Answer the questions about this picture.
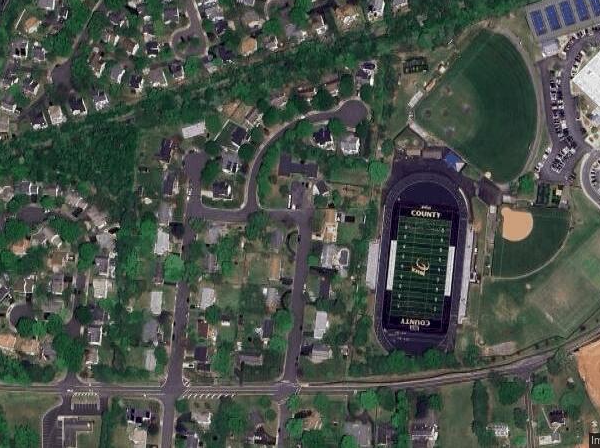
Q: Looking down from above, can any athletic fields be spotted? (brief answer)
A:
Yes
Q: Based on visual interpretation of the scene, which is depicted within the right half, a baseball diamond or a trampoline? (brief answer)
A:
baseball diamond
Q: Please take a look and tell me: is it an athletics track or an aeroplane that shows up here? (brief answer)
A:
athletics track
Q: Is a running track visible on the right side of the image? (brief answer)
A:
Yes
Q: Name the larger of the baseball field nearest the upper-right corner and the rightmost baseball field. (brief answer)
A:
the baseball field nearest the upper-right corner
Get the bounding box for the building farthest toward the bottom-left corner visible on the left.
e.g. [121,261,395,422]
[64,418,94,448]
